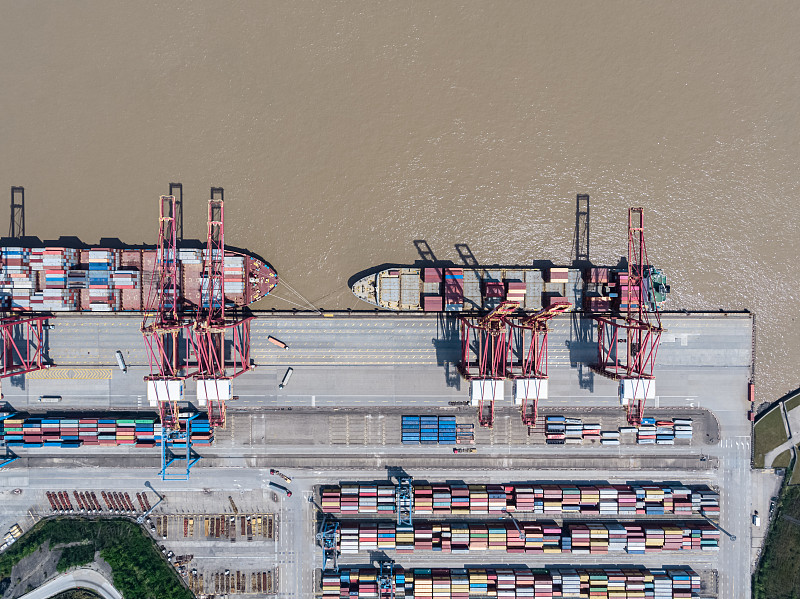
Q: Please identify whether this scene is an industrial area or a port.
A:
port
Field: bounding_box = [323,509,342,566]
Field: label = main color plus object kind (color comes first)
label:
blue container crane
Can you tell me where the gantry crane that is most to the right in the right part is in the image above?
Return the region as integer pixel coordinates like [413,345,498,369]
[582,208,668,426]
